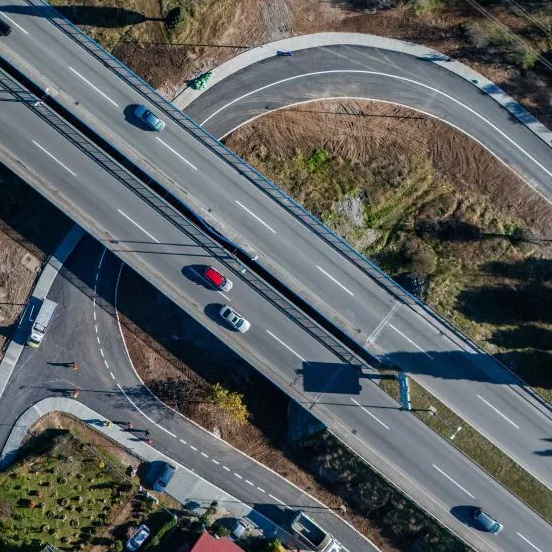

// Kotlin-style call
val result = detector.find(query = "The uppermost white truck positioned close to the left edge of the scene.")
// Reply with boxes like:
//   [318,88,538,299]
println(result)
[25,296,60,351]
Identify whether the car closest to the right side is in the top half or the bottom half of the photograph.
bottom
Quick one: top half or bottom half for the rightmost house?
bottom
